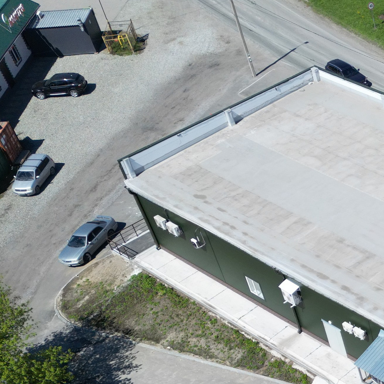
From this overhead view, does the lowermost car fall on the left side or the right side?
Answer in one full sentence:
It is on the left.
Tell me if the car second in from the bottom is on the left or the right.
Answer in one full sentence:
The car second in from the bottom is on the left side of the image.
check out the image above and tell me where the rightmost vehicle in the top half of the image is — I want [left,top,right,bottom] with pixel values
[326,53,383,87]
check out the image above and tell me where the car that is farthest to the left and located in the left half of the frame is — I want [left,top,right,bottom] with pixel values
[6,151,55,194]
